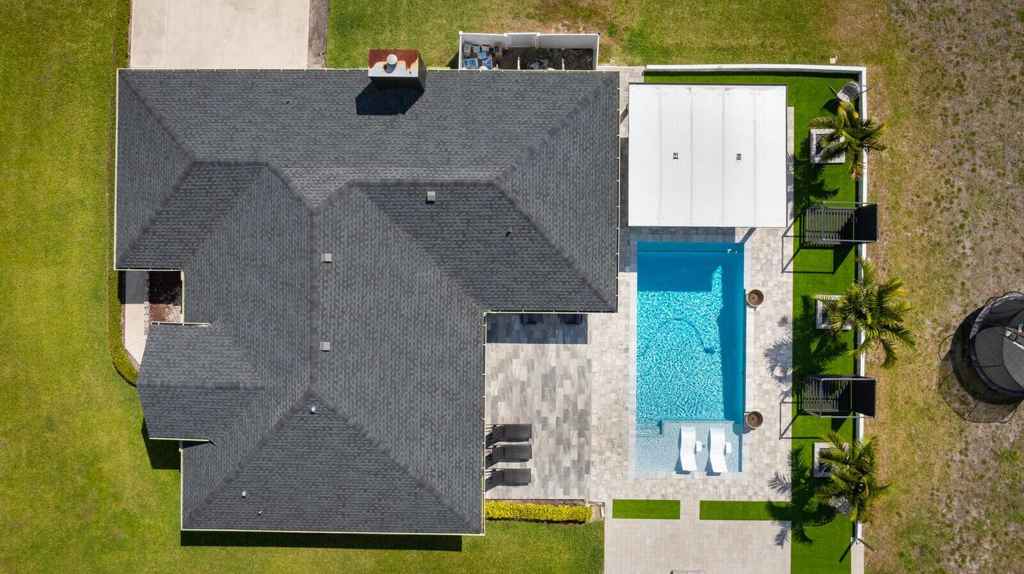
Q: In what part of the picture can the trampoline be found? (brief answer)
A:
right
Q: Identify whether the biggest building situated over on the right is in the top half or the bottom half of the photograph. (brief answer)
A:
top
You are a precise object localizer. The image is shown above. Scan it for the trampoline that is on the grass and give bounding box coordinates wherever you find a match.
[960,287,1024,401]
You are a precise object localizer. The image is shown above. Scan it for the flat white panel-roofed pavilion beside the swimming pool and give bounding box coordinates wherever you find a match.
[624,83,787,227]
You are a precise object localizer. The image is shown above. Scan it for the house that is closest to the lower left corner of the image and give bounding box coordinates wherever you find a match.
[116,48,620,535]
